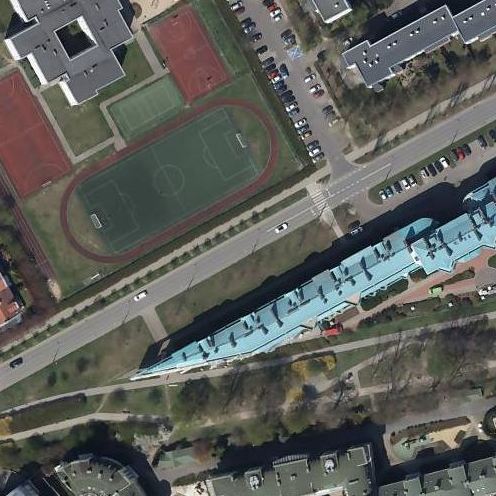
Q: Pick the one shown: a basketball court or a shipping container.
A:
basketball court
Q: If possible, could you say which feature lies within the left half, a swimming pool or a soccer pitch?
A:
soccer pitch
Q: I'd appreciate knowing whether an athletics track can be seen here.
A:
Yes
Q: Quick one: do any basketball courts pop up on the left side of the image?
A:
Yes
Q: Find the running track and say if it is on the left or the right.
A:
left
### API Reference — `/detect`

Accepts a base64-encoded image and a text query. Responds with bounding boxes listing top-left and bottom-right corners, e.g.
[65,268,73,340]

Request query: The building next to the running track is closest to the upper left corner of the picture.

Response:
[9,0,133,106]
